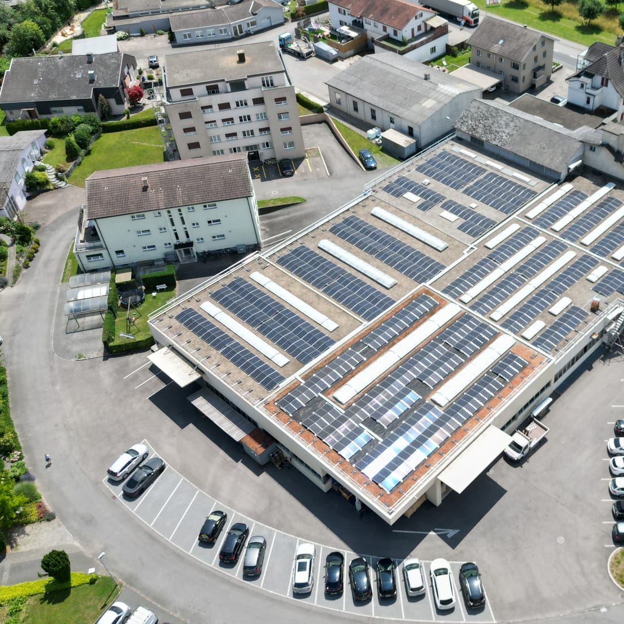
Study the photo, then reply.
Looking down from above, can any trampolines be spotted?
Yes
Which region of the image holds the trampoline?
left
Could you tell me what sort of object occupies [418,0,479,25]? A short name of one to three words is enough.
truck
